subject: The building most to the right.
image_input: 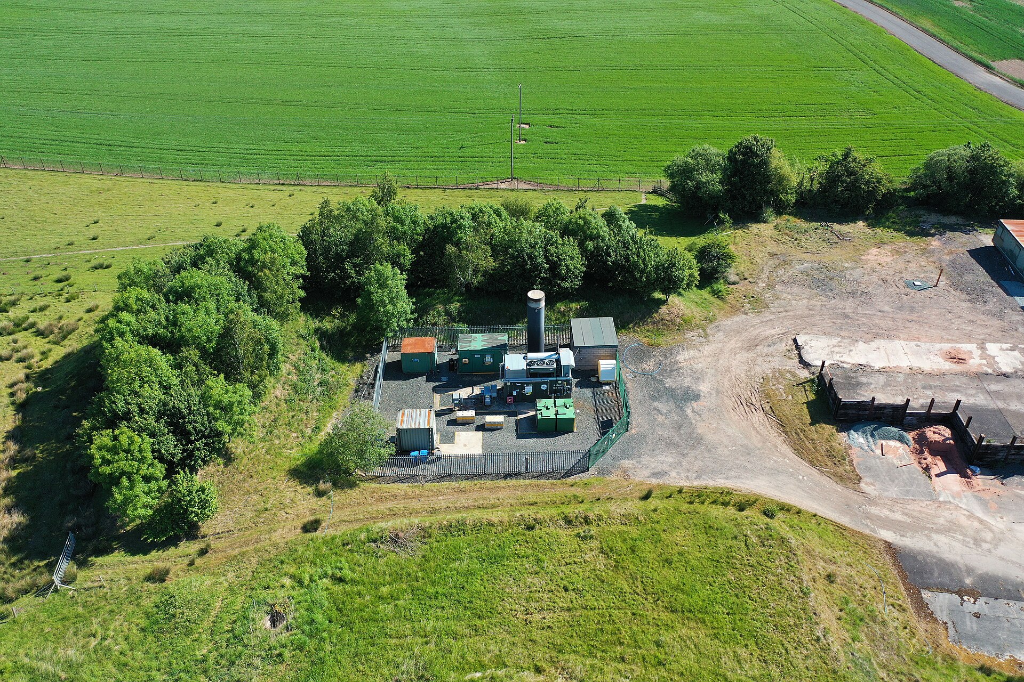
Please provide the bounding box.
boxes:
[992,219,1024,283]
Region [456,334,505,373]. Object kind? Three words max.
building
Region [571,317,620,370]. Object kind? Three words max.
shed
